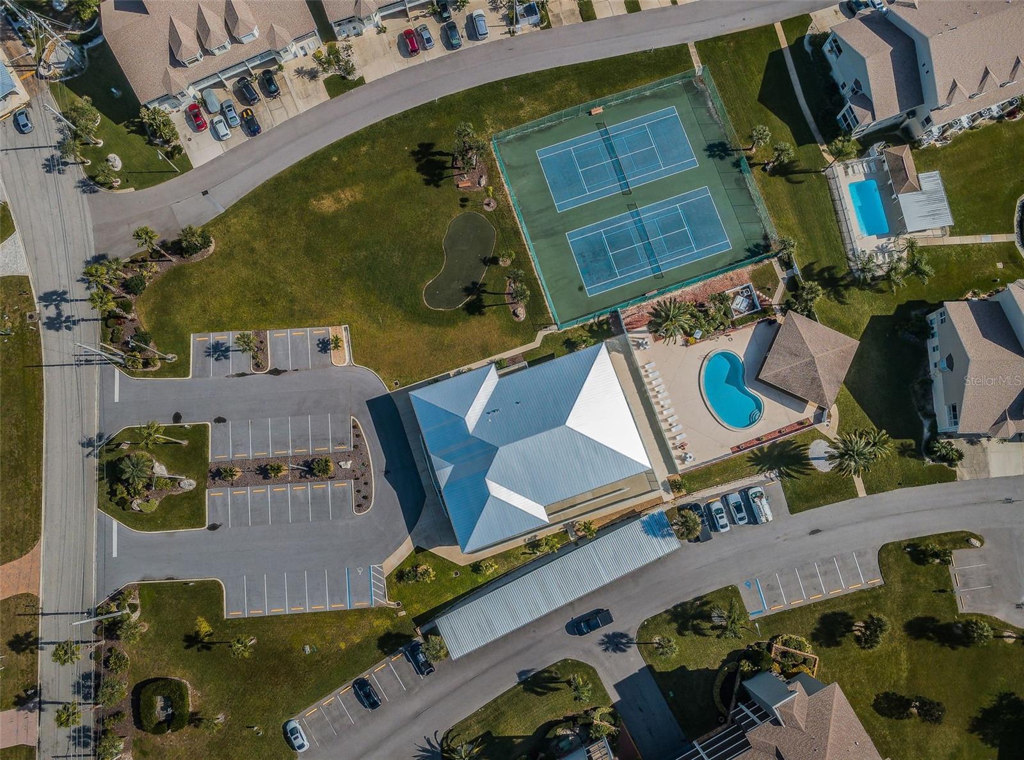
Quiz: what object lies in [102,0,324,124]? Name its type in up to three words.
house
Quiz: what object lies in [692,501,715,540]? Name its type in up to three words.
truck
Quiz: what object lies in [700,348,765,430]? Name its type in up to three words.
swimming pool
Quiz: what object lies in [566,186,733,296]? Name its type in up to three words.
tennis court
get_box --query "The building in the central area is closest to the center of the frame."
[409,342,653,556]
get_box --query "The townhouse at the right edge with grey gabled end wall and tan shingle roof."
[923,283,1024,445]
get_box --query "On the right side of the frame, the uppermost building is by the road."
[812,0,1024,147]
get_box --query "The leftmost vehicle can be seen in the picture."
[16,107,34,135]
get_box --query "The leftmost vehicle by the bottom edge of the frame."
[285,718,309,755]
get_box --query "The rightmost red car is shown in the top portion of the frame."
[403,29,419,56]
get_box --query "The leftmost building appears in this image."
[0,64,28,114]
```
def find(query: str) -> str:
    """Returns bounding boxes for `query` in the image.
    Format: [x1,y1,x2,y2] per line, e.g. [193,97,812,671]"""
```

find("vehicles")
[748,484,772,524]
[261,69,279,97]
[285,718,309,755]
[868,0,884,17]
[568,610,614,635]
[189,108,206,131]
[355,676,380,712]
[223,100,240,127]
[16,107,34,135]
[403,29,419,56]
[406,639,433,681]
[708,499,728,534]
[242,110,260,138]
[473,10,488,40]
[239,78,257,106]
[213,115,231,142]
[727,492,746,526]
[436,0,451,22]
[417,24,433,50]
[692,501,715,540]
[841,0,869,15]
[445,22,461,50]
